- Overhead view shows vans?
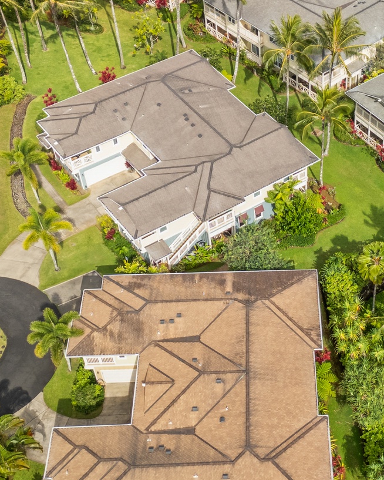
No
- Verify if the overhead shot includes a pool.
No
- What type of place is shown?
residential area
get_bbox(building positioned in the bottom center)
[43,269,334,480]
